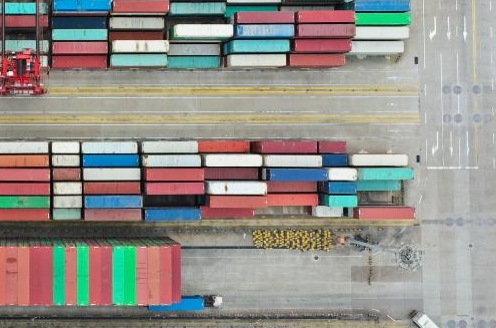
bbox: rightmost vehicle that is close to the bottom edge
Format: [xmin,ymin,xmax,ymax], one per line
[409,308,441,328]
